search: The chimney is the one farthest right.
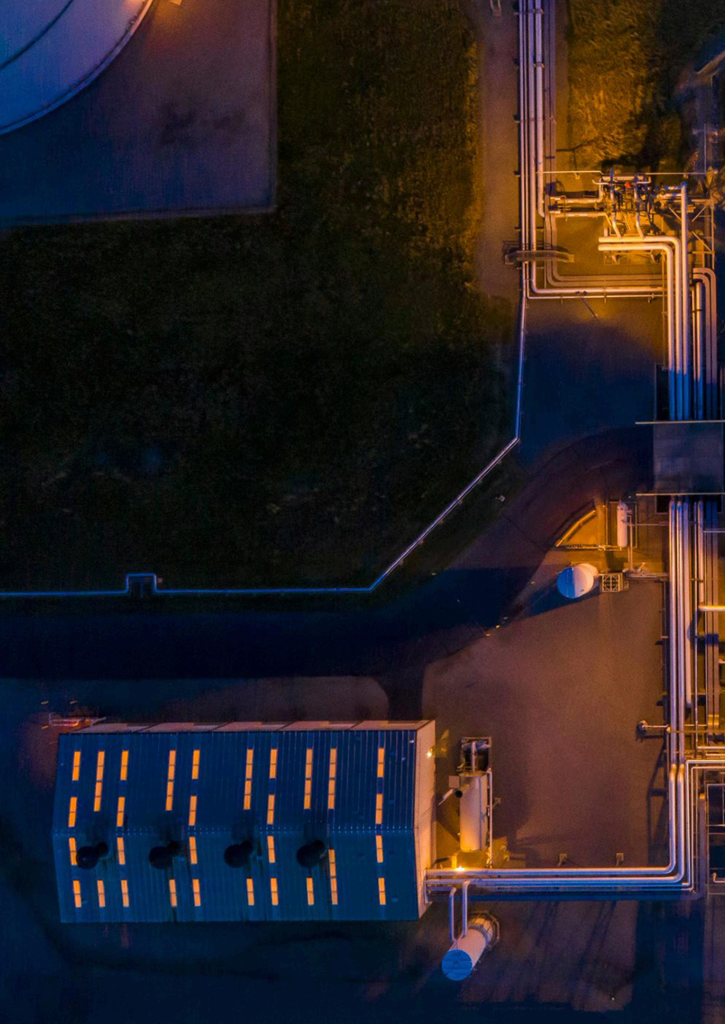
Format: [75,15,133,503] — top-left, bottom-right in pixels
[297,841,333,867]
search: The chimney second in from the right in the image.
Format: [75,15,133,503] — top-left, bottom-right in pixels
[224,840,260,867]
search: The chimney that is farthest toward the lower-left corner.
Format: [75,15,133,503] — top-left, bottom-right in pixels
[76,842,116,868]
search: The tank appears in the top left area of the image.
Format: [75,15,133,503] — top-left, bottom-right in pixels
[0,0,157,138]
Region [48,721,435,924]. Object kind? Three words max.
building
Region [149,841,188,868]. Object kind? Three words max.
chimney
